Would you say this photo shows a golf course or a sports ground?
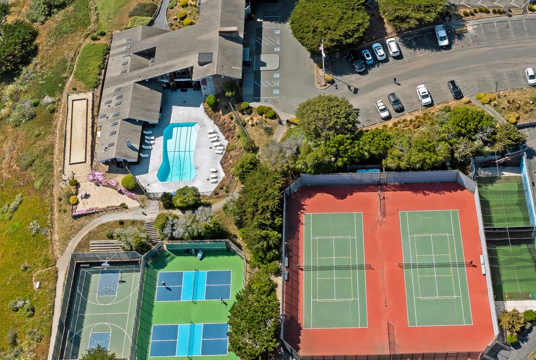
sports ground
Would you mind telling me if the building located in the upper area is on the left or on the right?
left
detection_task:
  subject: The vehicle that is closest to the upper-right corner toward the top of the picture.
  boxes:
[524,67,536,86]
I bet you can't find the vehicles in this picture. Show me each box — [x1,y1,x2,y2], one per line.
[388,93,403,112]
[346,50,364,72]
[387,38,400,56]
[374,100,390,119]
[524,67,536,86]
[416,85,431,105]
[435,24,449,46]
[447,79,462,98]
[360,48,372,65]
[371,43,386,61]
